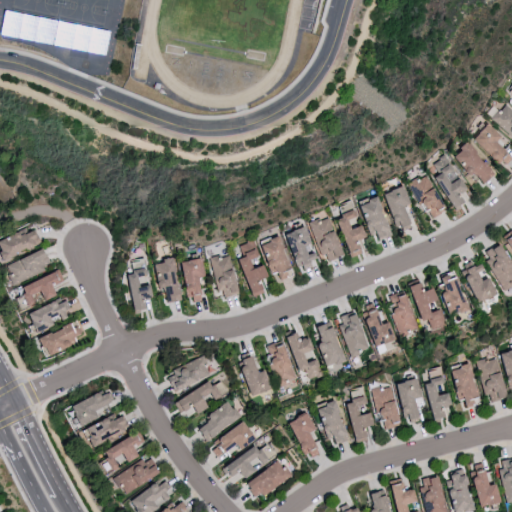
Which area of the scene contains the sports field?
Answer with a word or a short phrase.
top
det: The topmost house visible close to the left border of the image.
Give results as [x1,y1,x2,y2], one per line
[0,228,40,263]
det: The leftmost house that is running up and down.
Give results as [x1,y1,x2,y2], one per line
[128,260,152,314]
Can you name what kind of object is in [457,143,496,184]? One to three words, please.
house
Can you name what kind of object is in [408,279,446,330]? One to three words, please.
house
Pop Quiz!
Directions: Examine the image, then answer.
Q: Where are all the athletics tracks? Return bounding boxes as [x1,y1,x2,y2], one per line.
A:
[144,0,302,108]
